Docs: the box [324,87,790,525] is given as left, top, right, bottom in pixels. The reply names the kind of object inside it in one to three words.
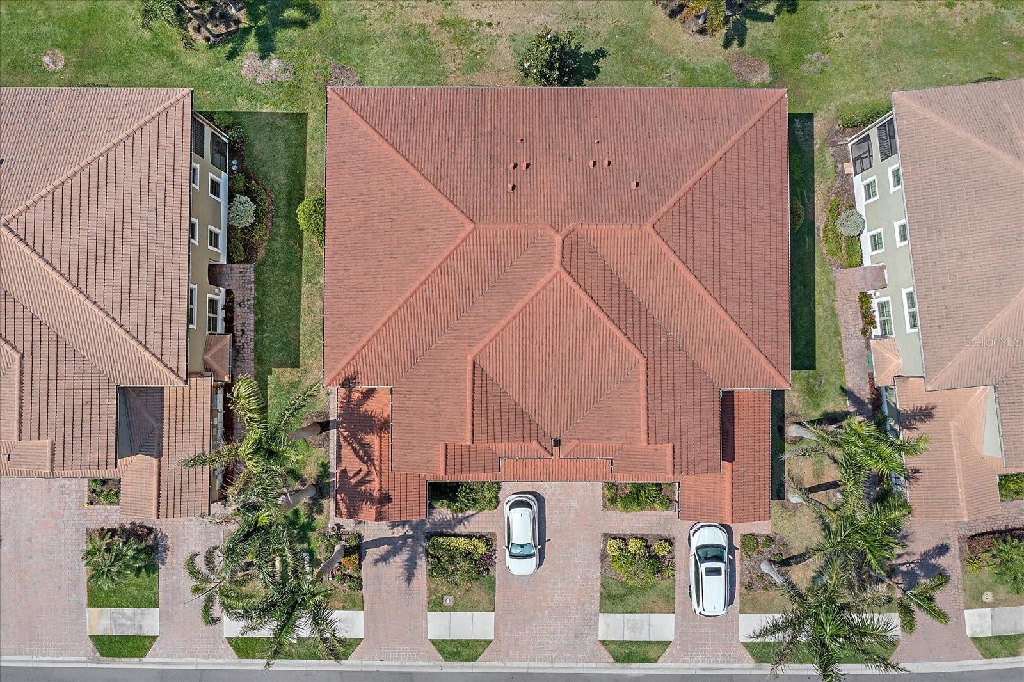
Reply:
house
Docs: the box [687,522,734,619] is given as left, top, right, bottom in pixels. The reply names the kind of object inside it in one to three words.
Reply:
car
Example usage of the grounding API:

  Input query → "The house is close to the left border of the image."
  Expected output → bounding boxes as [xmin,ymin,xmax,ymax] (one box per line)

[0,84,233,523]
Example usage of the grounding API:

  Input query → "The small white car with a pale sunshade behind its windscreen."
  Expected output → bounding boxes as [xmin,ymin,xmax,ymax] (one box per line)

[501,491,544,574]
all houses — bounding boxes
[324,87,790,525]
[0,84,233,523]
[849,76,1024,521]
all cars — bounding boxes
[501,491,544,574]
[687,522,734,619]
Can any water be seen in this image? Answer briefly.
No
